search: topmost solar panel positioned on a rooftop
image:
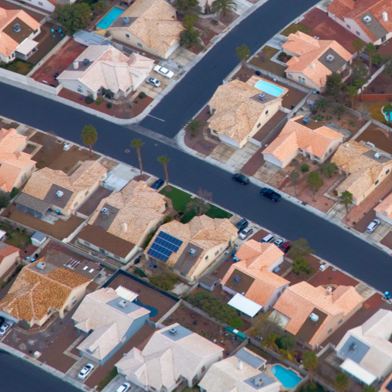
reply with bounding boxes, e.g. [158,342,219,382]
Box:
[148,233,183,261]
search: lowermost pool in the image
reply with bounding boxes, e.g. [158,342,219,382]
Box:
[268,363,303,389]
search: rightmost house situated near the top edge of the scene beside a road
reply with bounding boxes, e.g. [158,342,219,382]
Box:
[328,0,392,46]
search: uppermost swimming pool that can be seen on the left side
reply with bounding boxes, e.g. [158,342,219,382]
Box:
[96,5,126,29]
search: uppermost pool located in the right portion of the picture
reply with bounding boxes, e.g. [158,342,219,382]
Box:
[252,78,286,98]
